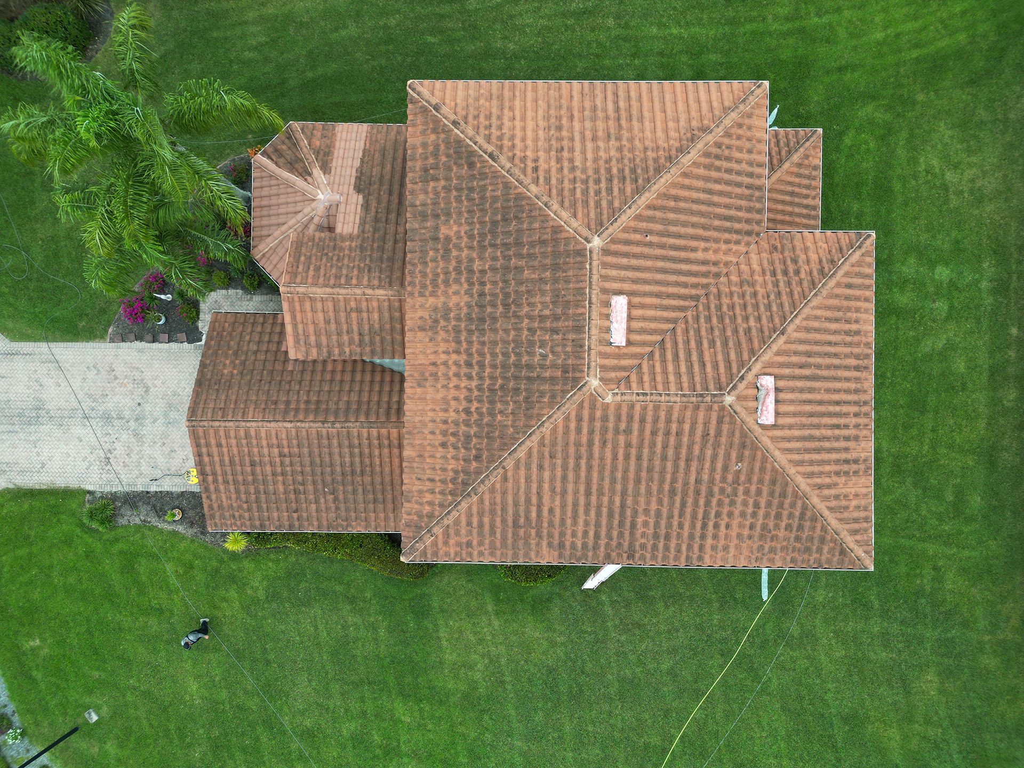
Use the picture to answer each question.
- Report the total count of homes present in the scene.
one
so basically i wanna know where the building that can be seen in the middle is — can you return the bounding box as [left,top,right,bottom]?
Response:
[183,78,876,571]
